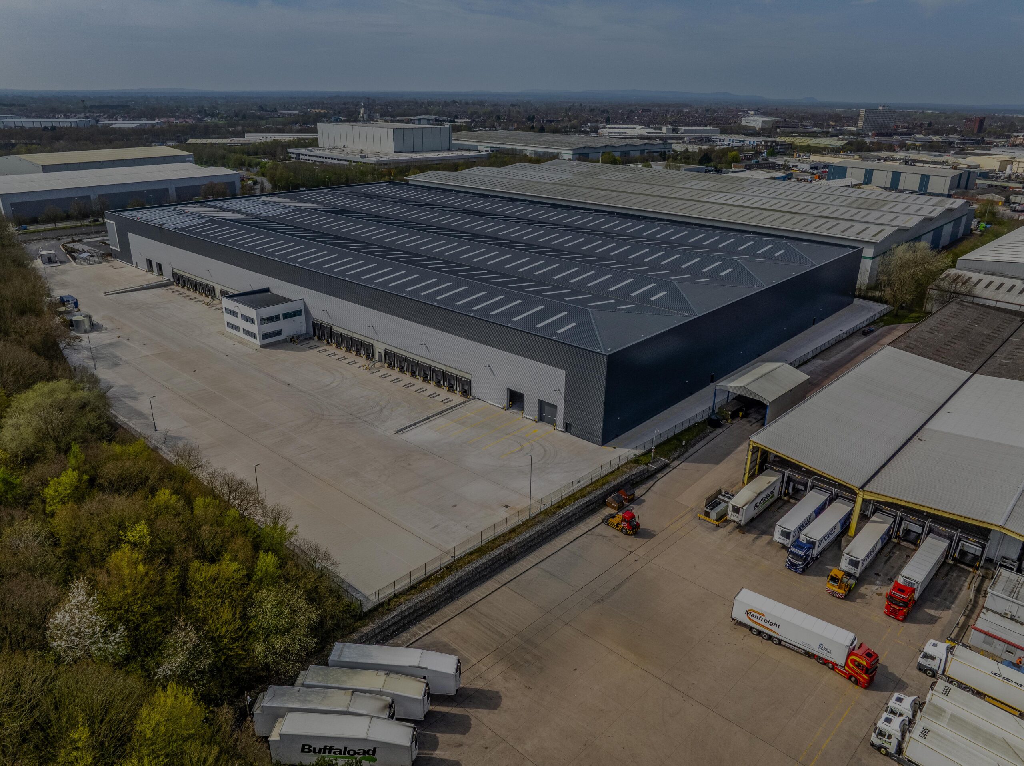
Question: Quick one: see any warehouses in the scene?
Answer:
Yes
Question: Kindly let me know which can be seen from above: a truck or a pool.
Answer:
truck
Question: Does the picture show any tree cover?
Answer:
Yes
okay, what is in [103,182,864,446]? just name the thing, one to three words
warehouse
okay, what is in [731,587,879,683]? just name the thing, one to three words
truck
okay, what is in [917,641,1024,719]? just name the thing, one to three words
truck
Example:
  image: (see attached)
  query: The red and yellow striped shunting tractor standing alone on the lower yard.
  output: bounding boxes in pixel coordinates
[601,510,636,534]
